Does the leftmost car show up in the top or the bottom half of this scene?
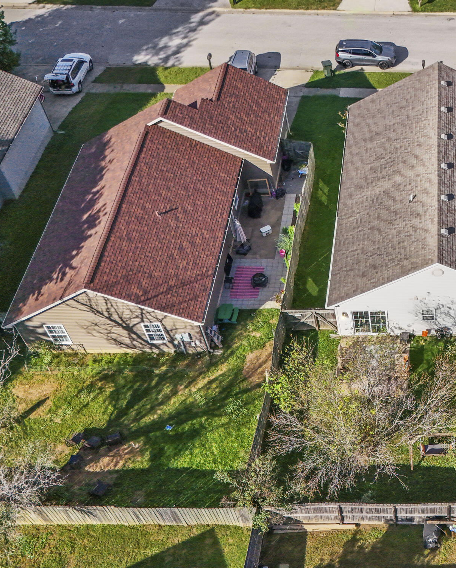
top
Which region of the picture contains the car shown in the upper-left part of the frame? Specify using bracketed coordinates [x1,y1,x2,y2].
[41,52,93,98]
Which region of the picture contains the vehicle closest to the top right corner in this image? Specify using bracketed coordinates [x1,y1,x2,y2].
[333,37,399,69]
